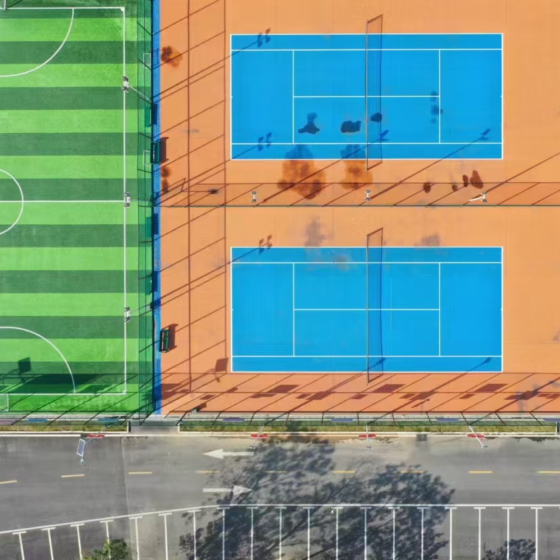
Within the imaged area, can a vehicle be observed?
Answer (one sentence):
No, the scene contains no vehicle.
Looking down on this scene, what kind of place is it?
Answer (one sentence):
It's a sports ground.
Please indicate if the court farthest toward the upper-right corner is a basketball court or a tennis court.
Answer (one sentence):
What you see as the court farthest toward the upper-right corner is a tennis court.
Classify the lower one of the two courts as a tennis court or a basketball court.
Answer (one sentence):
The lower one of the two courts is a tennis court.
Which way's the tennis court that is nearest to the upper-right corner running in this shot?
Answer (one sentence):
From this overhead view, the tennis court that is nearest to the upper-right corner appears to run from side to side.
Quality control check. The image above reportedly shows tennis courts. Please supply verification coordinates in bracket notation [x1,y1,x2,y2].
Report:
[230,33,503,160]
[230,247,503,373]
